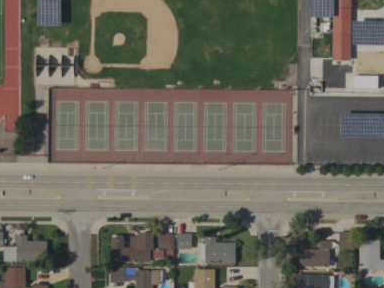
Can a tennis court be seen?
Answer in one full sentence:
Yes, the frame does contain a tennis court.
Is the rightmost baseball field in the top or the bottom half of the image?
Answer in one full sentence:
Seen from above, the rightmost baseball field lies in the top half of the view.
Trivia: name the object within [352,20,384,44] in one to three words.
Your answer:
solar panel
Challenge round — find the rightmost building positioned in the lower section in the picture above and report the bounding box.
[360,240,384,272]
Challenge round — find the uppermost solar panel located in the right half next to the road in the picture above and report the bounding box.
[311,0,335,16]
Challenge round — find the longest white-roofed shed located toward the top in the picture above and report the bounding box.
[354,75,379,88]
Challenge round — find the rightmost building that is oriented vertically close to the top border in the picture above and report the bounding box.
[333,0,352,60]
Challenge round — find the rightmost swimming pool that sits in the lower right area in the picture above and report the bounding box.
[364,275,384,288]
